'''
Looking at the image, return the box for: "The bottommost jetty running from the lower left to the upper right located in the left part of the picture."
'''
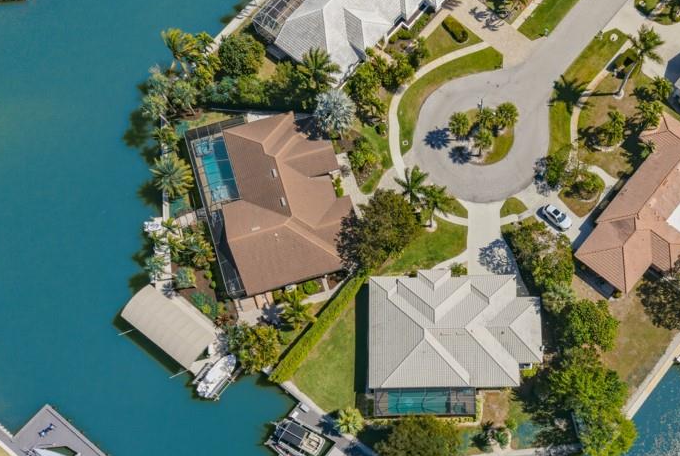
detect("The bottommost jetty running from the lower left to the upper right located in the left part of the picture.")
[191,337,224,376]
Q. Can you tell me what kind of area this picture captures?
residential area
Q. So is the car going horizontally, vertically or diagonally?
diagonally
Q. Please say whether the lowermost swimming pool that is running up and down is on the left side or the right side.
left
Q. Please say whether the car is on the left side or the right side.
right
